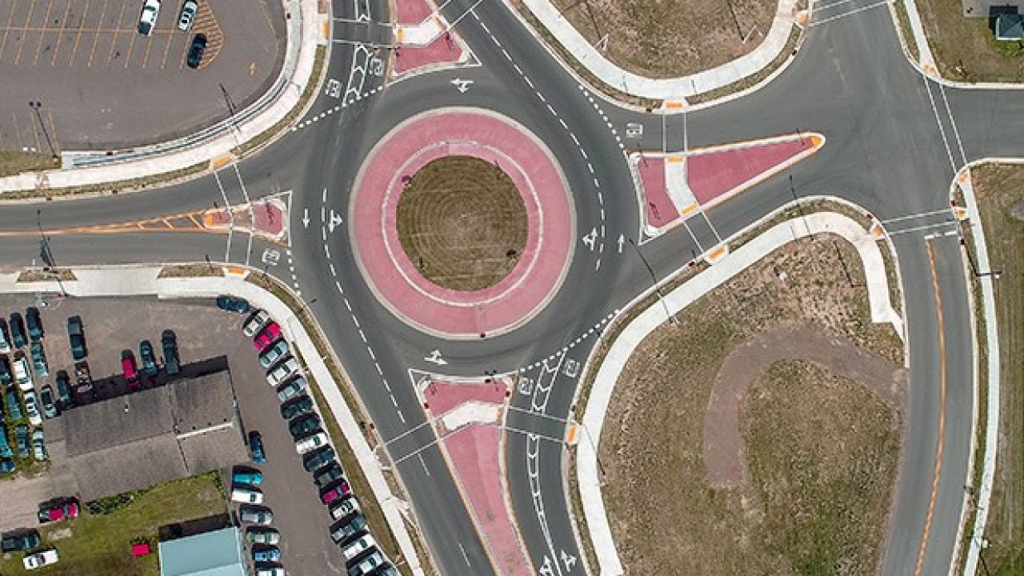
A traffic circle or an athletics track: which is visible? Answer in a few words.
traffic circle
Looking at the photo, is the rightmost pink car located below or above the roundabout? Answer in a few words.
below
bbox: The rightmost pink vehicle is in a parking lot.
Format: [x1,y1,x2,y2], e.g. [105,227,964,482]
[318,479,352,504]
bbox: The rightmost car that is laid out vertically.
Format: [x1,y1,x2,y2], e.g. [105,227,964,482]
[247,431,265,463]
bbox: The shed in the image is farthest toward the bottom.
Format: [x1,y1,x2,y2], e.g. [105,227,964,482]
[158,524,251,576]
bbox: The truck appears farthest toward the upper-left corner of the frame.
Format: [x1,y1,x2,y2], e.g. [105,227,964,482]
[138,0,161,36]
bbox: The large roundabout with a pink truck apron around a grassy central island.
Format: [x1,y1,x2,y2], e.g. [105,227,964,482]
[308,66,619,380]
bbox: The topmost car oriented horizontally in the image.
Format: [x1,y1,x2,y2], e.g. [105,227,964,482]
[216,295,249,313]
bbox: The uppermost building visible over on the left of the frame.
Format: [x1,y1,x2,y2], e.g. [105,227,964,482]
[47,368,251,499]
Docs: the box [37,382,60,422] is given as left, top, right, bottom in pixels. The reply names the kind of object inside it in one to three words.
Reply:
truck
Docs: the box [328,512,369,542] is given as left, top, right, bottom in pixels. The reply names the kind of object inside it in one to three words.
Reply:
truck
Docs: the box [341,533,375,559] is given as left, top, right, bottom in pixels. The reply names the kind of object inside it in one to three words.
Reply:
car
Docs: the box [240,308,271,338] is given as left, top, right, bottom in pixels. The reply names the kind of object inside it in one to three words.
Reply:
car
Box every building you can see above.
[47,368,251,499]
[158,524,251,576]
[993,14,1024,41]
